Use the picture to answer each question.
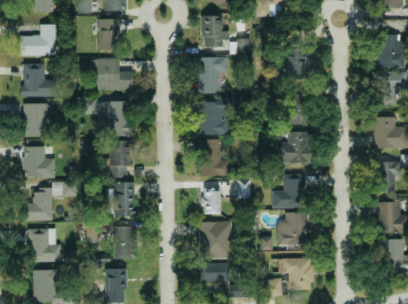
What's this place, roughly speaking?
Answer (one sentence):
The area seen from above is a residential area.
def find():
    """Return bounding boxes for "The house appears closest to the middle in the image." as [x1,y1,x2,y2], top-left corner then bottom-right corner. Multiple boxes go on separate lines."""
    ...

[202,140,229,176]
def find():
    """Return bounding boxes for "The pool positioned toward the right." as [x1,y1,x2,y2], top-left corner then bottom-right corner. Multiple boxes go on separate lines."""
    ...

[262,212,280,229]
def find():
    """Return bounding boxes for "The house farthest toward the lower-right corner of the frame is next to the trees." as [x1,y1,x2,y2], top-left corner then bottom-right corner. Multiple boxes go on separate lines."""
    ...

[388,240,408,266]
